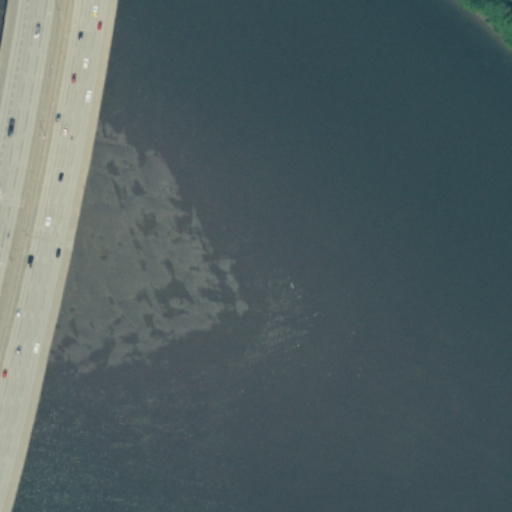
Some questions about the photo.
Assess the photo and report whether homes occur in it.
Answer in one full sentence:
No, there's no home here.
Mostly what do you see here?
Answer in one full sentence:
What you mostly see from above here is water.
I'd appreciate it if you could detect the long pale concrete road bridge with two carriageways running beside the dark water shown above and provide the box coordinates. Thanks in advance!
[0,0,118,512]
